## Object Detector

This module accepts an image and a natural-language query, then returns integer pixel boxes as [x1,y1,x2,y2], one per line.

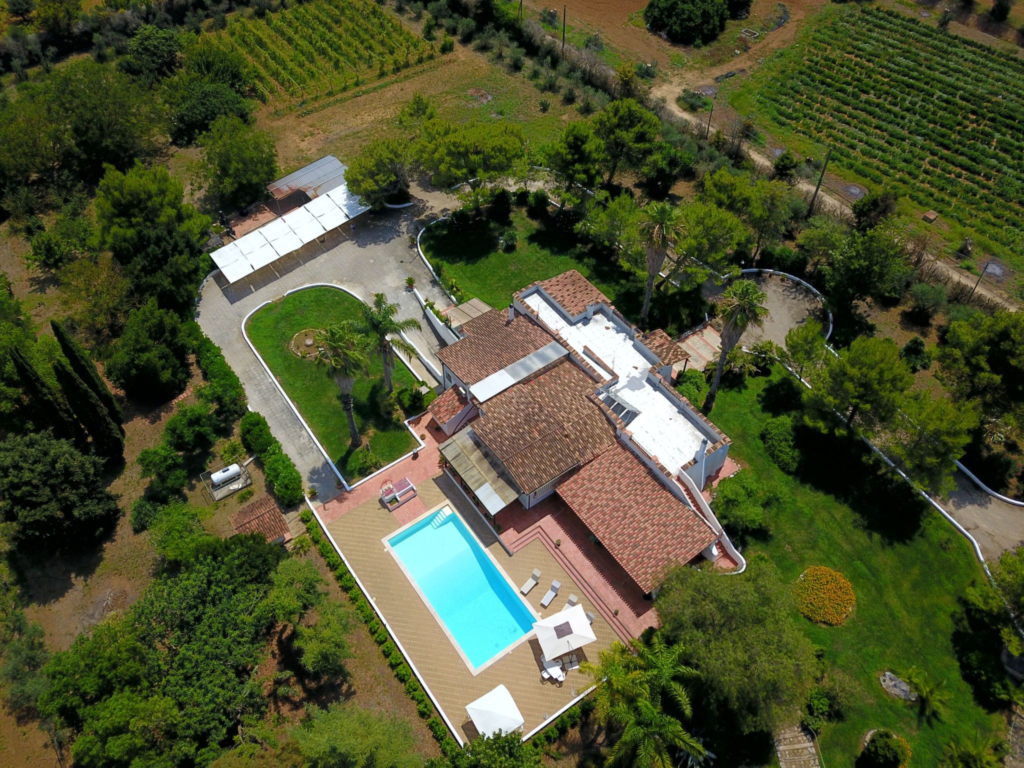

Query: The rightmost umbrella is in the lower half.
[533,604,597,673]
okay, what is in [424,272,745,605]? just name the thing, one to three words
house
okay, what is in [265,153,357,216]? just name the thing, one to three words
shed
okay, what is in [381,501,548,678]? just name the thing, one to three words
swimming pool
